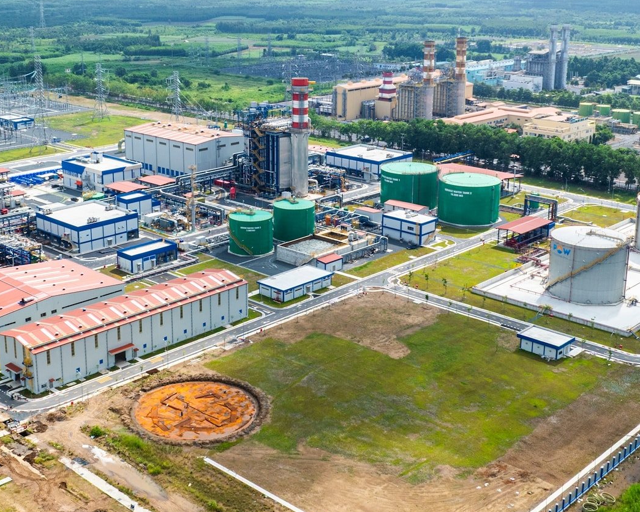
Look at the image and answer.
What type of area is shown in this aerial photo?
industrial area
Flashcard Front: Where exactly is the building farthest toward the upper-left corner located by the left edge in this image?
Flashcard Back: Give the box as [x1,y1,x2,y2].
[0,115,34,130]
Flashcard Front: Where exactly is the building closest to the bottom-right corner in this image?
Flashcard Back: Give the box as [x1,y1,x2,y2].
[515,325,578,359]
